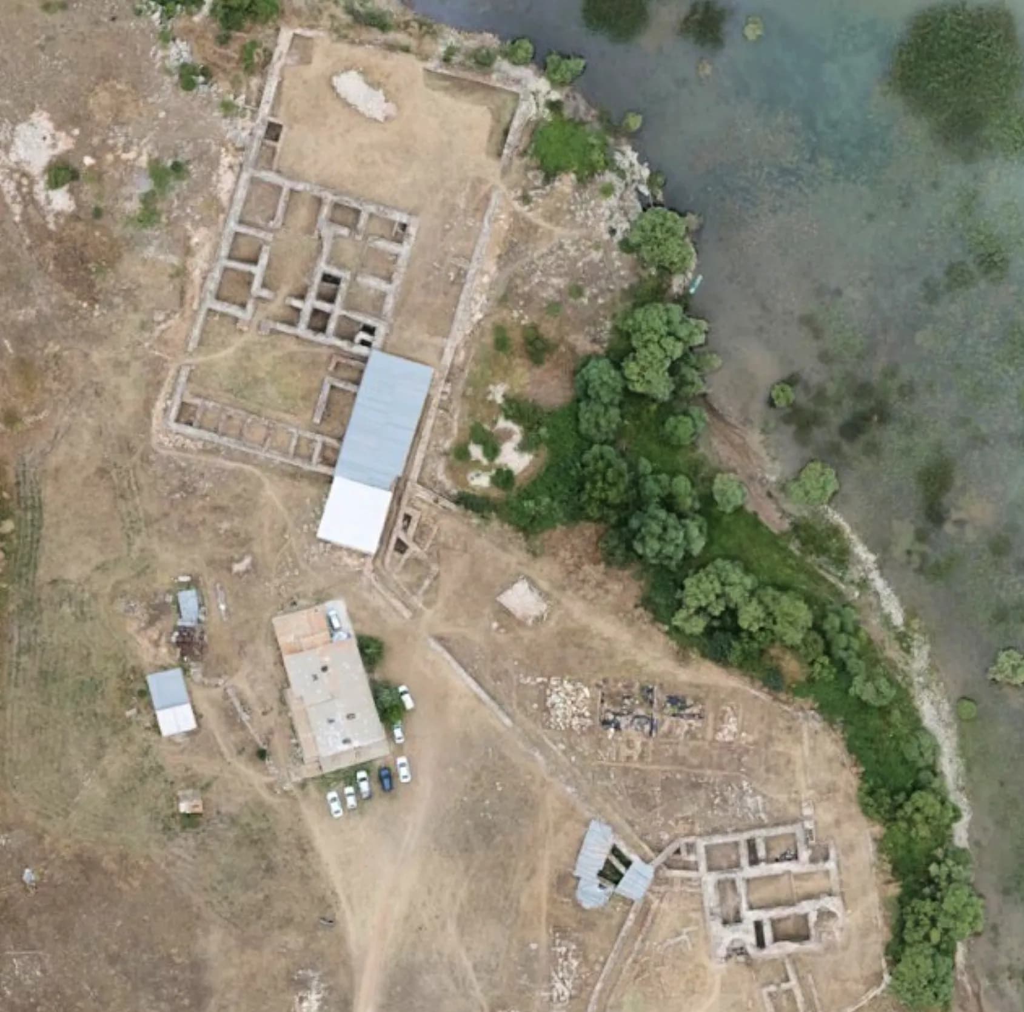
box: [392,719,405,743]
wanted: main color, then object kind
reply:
white vehicle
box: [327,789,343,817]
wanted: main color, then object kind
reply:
white car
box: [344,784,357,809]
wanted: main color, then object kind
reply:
white vehicle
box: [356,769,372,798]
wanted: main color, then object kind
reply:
white car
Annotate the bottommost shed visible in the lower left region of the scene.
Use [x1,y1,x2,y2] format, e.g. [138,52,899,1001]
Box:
[179,786,204,813]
